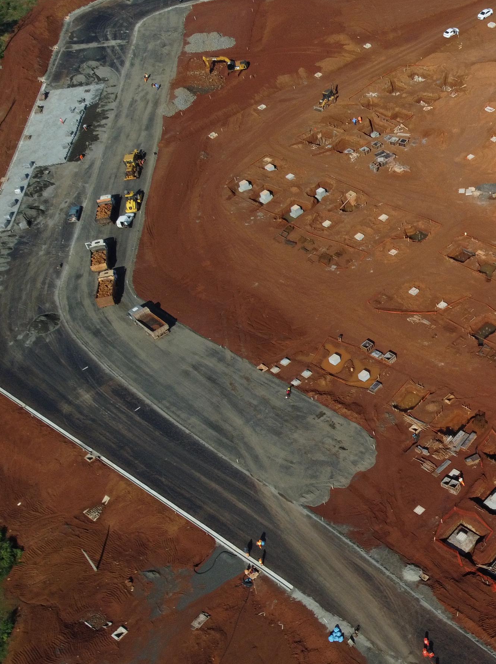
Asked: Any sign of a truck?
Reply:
Yes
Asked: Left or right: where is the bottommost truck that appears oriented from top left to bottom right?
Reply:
left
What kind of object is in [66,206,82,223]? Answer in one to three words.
vehicle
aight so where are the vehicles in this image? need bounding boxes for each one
[66,206,82,223]
[132,307,171,343]
[114,208,139,228]
[97,271,118,310]
[441,26,460,36]
[126,151,143,182]
[476,9,494,20]
[96,197,116,231]
[312,86,338,114]
[124,188,139,212]
[85,242,111,277]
